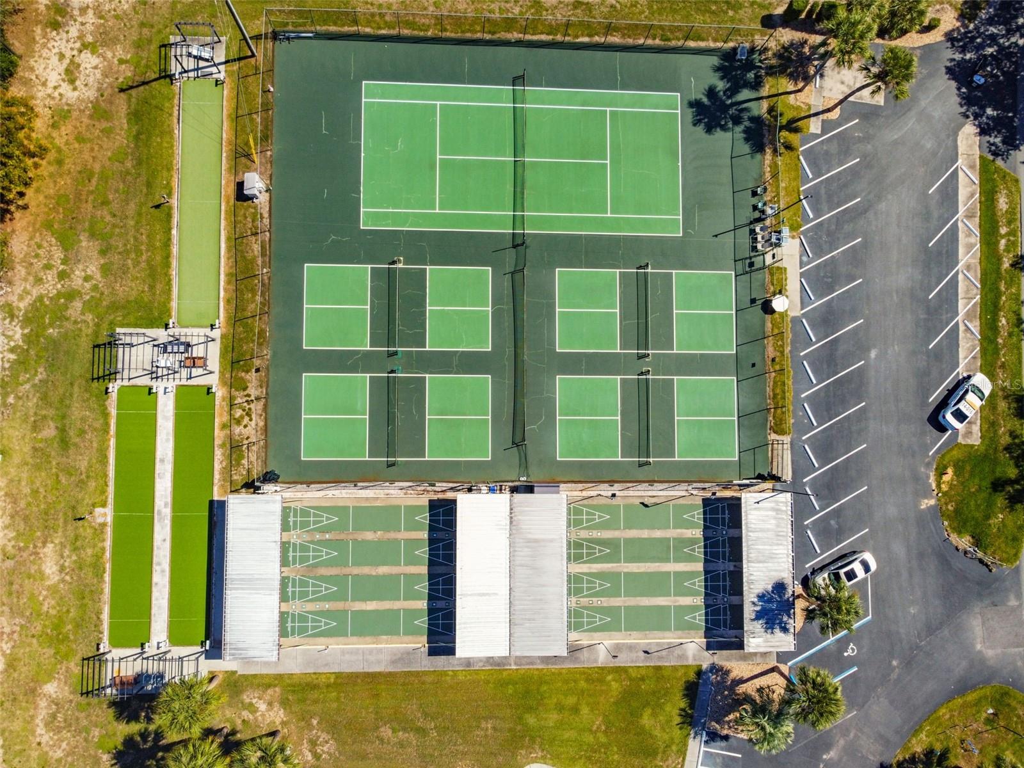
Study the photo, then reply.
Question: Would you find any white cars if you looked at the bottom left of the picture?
No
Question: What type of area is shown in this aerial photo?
sports ground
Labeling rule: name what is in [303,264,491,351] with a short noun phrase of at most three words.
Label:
sports court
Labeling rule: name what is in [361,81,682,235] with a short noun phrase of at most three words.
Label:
tennis court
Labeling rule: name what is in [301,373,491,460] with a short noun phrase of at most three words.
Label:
sports court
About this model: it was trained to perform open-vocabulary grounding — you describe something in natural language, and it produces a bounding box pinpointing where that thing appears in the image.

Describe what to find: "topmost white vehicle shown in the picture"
[940,374,990,431]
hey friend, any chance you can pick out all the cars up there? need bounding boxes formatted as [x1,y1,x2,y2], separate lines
[811,550,876,591]
[940,374,990,431]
